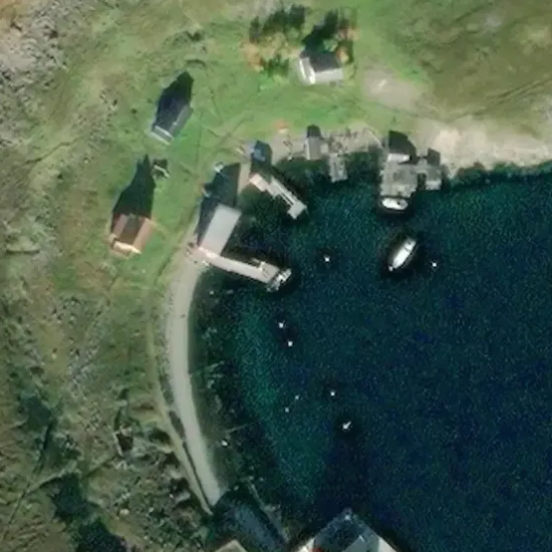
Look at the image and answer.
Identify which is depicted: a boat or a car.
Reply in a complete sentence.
It is a boat that can be seen here.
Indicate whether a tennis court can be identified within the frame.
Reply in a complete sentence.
No, I can see no tennis court in this picture.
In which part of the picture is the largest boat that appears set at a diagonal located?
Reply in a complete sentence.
The largest boat that appears set at a diagonal is in the right part of the image.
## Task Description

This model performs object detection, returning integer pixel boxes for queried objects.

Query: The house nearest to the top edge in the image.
[301,58,344,91]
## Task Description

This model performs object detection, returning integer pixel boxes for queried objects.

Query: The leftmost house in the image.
[109,216,152,264]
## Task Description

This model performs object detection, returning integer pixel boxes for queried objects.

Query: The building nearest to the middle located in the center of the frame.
[196,203,240,260]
